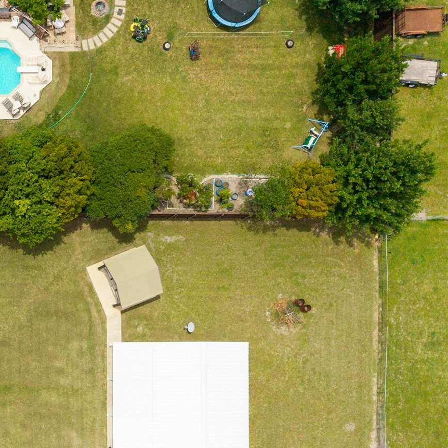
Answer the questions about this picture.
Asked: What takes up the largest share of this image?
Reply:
grass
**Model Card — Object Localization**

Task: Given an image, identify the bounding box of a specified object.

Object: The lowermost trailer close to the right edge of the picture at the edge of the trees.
[399,53,448,88]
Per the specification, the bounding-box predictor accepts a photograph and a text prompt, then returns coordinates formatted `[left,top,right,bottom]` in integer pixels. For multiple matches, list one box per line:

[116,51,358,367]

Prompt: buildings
[105,342,248,448]
[94,245,163,312]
